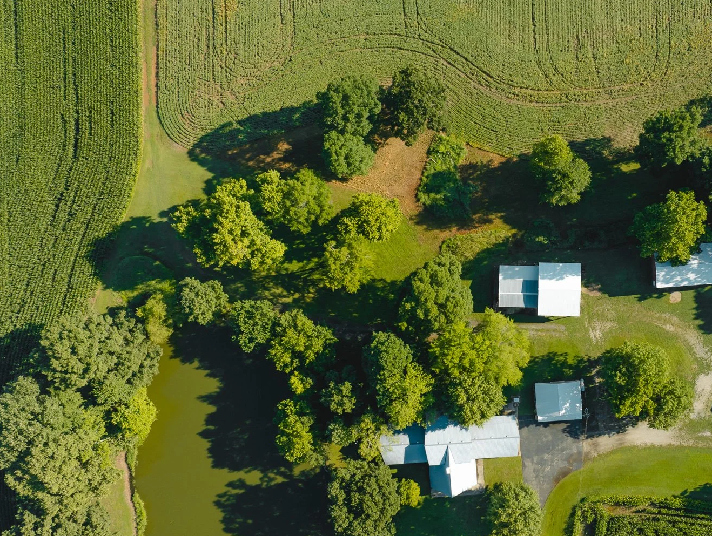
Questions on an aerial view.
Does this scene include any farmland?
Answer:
Yes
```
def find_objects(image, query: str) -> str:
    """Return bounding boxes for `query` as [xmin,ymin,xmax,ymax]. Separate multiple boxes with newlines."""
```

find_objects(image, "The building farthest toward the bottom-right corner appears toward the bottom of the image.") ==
[535,380,582,423]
